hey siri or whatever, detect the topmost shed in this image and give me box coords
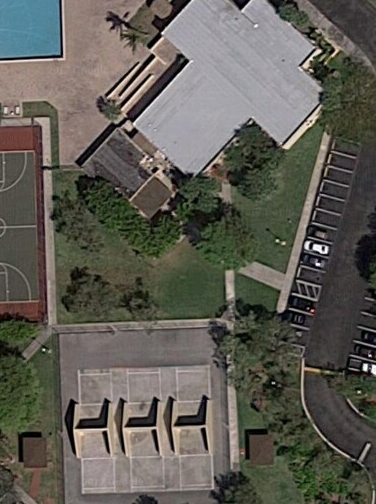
[151,0,173,18]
